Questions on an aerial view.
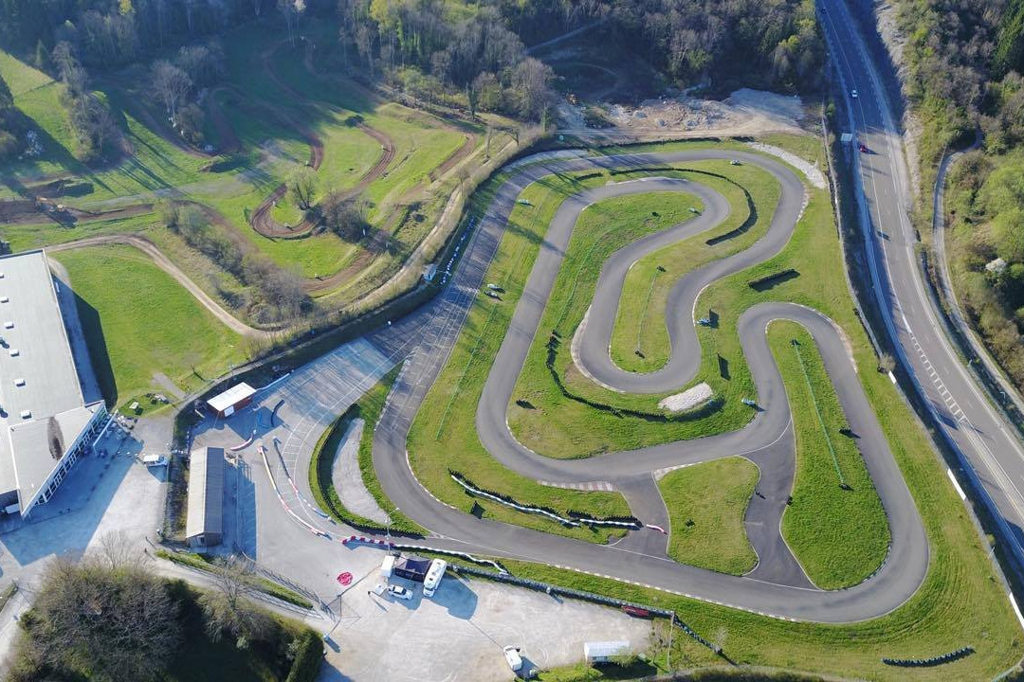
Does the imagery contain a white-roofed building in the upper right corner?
No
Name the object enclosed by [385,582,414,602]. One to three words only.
car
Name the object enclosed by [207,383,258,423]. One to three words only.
shed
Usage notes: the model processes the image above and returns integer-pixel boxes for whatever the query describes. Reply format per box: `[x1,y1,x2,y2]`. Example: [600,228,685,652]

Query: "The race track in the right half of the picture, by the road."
[373,149,930,623]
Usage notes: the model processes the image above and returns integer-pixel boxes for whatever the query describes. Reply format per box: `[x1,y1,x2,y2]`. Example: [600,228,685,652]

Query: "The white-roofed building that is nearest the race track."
[578,642,633,664]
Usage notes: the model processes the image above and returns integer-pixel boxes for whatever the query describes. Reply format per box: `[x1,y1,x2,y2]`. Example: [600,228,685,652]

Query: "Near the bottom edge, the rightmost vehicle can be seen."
[499,646,524,677]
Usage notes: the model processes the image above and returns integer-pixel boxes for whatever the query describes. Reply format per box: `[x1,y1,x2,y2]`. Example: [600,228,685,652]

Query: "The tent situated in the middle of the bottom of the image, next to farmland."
[396,556,430,583]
